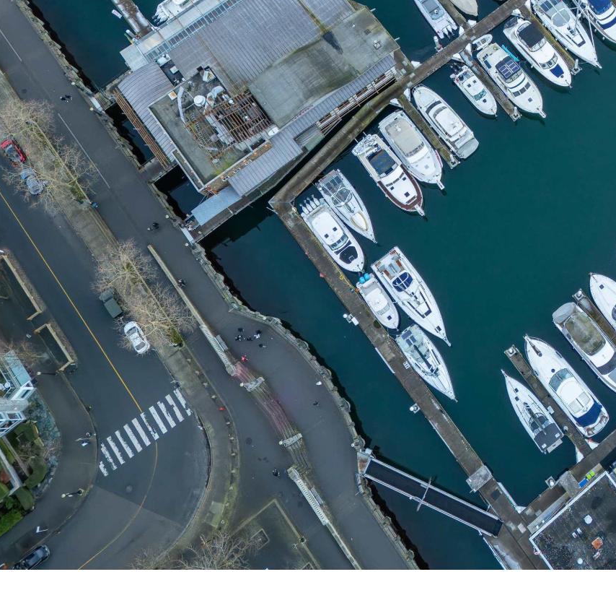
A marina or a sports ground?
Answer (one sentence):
The area seen from above is a marina.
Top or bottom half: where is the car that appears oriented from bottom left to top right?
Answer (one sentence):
It is in the bottom half that the car that appears oriented from bottom left to top right appears.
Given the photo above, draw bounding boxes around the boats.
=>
[548,302,570,320]
[301,200,364,276]
[586,273,616,331]
[397,327,458,405]
[549,302,616,391]
[448,63,501,118]
[472,41,548,122]
[355,138,426,219]
[316,168,377,241]
[413,0,451,38]
[475,36,492,51]
[529,0,601,71]
[412,86,481,161]
[155,0,200,23]
[355,274,401,334]
[520,336,607,439]
[566,0,616,46]
[373,249,451,345]
[498,14,575,88]
[377,112,455,190]
[502,367,565,456]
